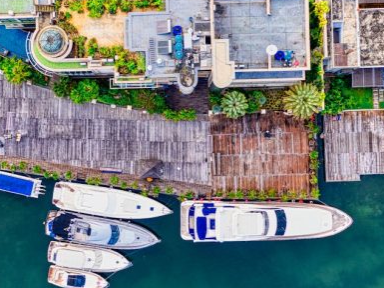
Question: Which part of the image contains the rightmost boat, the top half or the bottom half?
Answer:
bottom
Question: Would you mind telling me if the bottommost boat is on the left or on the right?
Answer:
left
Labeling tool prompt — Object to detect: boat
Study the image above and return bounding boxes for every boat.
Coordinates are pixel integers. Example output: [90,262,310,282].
[181,201,355,243]
[44,240,133,271]
[46,264,110,288]
[50,180,173,219]
[42,210,160,248]
[0,171,48,199]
